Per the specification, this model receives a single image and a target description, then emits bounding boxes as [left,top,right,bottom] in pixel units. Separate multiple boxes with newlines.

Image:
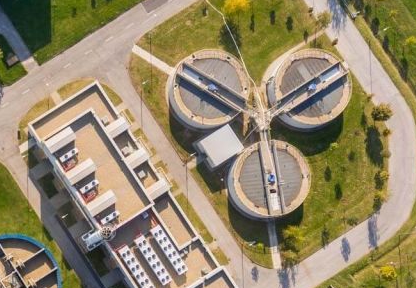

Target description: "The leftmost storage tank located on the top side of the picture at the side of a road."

[166,48,252,132]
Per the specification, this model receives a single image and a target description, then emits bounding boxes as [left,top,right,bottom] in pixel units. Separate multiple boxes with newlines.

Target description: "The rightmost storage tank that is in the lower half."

[224,133,312,220]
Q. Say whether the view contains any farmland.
No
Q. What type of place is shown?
industrial area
